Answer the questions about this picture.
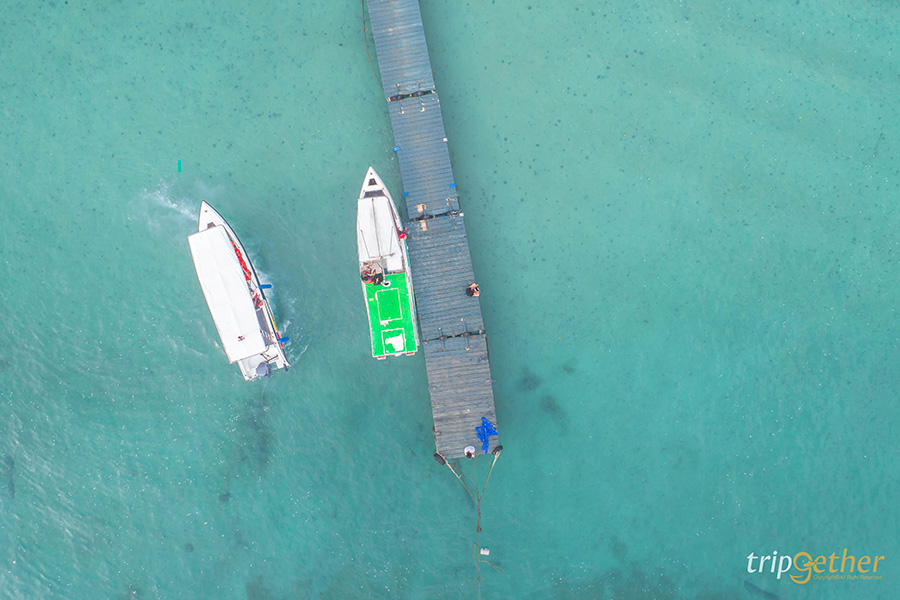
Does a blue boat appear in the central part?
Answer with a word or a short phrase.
No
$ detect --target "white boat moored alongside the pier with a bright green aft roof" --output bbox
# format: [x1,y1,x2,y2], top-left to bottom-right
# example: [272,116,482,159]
[356,166,419,362]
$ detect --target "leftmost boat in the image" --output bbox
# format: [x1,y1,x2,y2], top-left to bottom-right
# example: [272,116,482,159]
[188,200,288,380]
